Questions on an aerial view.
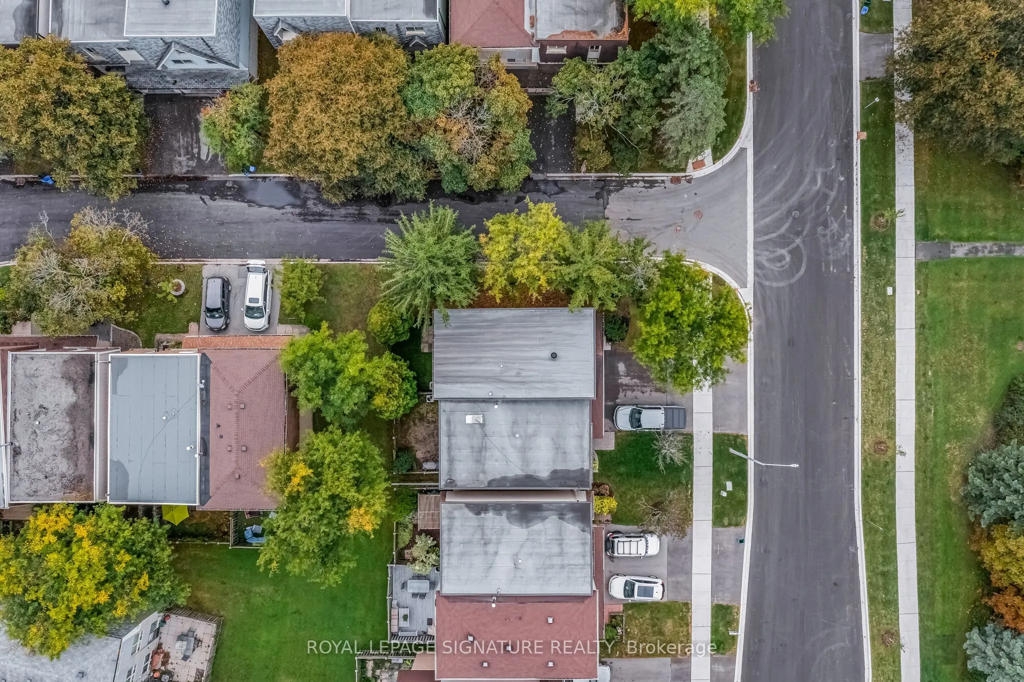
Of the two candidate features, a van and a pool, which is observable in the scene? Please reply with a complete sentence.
It is a van that can be seen here.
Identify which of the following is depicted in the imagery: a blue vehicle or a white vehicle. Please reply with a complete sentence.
Of the two, only a white vehicle appears.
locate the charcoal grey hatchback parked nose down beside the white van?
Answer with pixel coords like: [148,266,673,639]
[202,276,232,331]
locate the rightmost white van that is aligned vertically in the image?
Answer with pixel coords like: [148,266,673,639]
[242,261,274,331]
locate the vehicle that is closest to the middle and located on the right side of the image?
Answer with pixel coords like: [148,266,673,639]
[610,404,684,433]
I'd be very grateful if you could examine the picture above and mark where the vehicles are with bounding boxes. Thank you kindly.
[202,276,232,331]
[242,261,274,331]
[610,404,684,433]
[604,531,659,561]
[605,574,664,605]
